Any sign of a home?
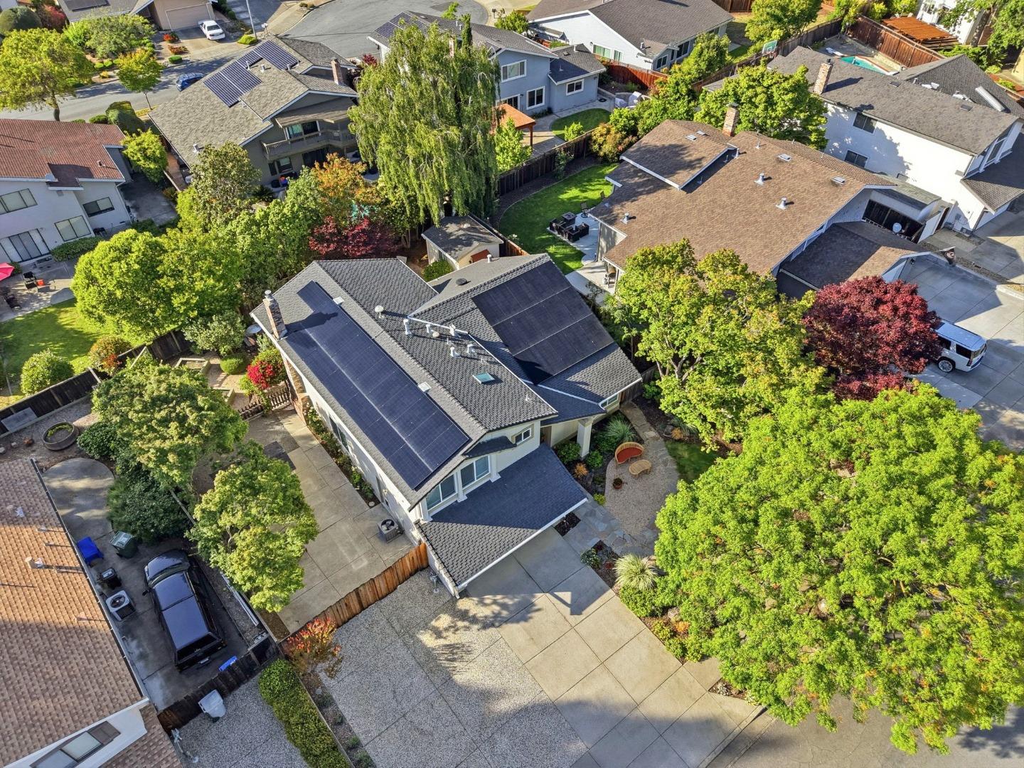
Yes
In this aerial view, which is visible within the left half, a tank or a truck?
truck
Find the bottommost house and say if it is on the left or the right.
left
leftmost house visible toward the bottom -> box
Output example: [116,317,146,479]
[0,453,185,768]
